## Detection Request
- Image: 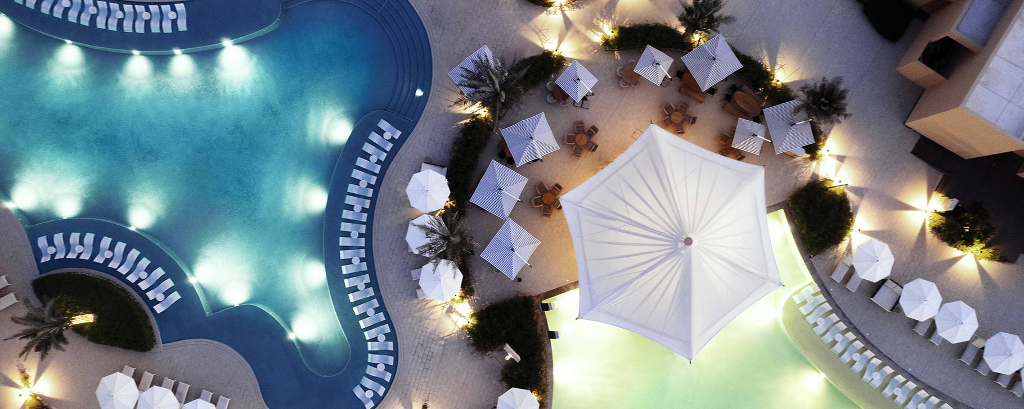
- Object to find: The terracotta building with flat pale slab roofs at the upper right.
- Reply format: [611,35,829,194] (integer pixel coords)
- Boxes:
[897,0,1024,160]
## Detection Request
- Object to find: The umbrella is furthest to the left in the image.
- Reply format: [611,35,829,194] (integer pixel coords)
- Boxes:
[94,371,141,409]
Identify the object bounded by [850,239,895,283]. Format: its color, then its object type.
white umbrella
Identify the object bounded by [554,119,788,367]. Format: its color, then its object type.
white tent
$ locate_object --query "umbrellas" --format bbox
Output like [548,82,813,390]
[763,98,814,155]
[136,382,184,409]
[470,160,528,220]
[94,371,141,409]
[681,33,743,92]
[979,330,1024,376]
[449,44,510,108]
[730,118,773,155]
[932,300,978,345]
[483,218,541,280]
[494,386,540,409]
[633,45,674,86]
[501,111,560,168]
[418,257,464,303]
[897,276,943,322]
[183,398,221,409]
[404,213,449,258]
[850,239,895,283]
[556,60,598,105]
[405,169,450,213]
